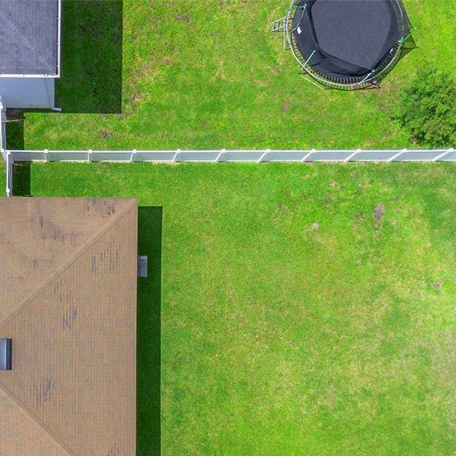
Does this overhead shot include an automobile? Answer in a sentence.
No, the photo shows no automobile.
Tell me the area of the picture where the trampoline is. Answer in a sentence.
The trampoline is in the top right part of the image.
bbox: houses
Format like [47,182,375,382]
[0,197,146,456]
[0,0,63,114]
